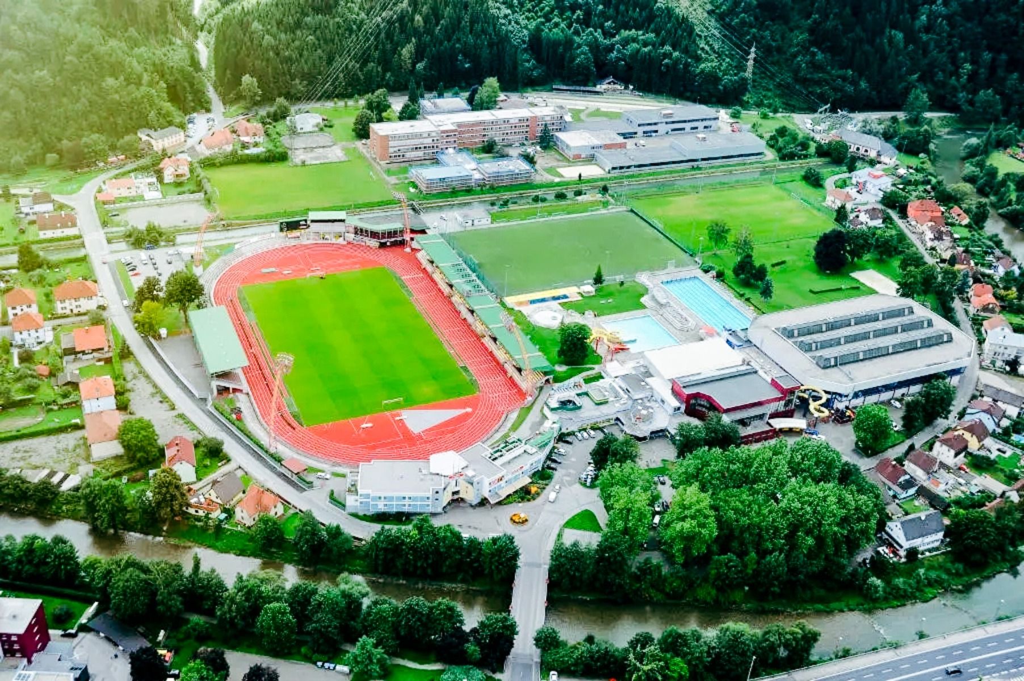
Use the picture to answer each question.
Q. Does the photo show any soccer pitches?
Yes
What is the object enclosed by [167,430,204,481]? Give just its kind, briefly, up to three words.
house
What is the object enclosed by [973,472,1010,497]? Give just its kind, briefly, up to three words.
barn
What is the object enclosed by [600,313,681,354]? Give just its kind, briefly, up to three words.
swimming pool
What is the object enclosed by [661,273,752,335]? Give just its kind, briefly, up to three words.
swimming pool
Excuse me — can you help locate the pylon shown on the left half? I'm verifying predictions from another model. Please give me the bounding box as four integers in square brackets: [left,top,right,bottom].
[283,95,296,135]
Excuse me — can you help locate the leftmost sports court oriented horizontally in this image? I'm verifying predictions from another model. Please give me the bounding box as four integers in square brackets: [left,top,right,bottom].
[291,146,348,165]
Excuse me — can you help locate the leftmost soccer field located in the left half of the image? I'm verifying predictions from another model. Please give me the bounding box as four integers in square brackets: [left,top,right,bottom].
[240,264,479,428]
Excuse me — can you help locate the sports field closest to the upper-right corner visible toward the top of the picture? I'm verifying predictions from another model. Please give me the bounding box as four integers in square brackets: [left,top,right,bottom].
[442,210,695,298]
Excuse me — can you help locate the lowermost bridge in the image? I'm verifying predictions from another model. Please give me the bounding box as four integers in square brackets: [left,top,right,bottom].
[506,556,549,681]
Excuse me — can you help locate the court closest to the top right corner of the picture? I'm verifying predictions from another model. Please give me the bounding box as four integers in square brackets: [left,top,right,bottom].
[851,268,898,294]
